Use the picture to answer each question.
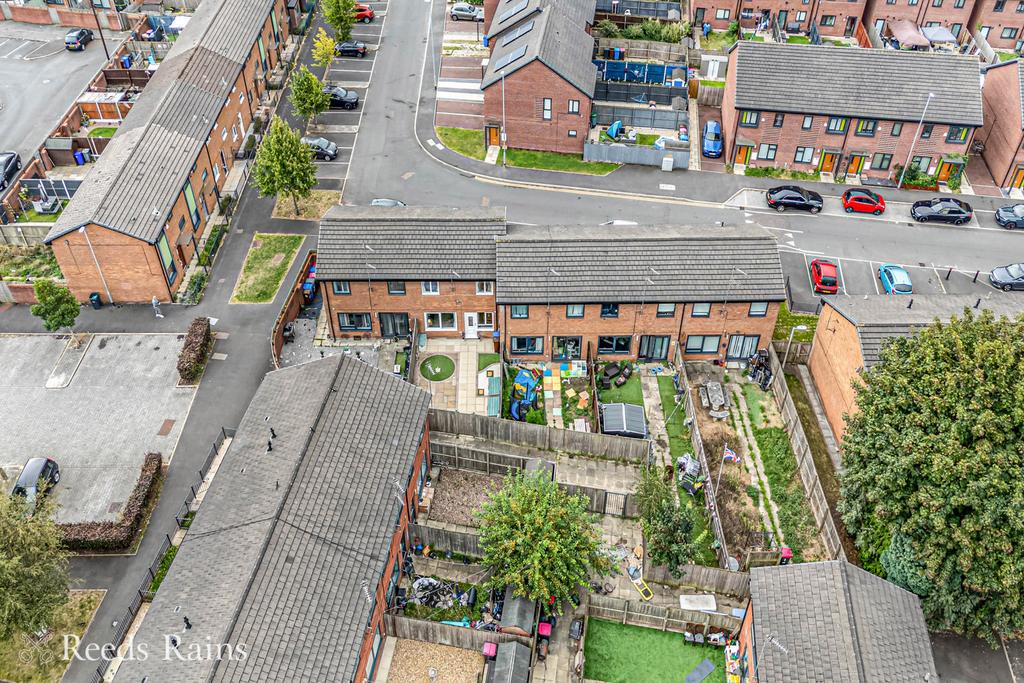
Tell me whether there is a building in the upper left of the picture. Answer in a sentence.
Yes, in the upper left of the picture there is a building.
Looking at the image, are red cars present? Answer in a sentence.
Yes, there is a red car in the image.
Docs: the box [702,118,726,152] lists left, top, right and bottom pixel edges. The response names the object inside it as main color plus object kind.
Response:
blue car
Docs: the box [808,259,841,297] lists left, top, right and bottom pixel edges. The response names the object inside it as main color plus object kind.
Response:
red car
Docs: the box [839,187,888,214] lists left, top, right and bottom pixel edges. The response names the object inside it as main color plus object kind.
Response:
red car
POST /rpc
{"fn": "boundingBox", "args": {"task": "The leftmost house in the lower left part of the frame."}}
[111,356,433,683]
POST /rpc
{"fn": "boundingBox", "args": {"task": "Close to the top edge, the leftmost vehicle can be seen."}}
[65,30,94,51]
